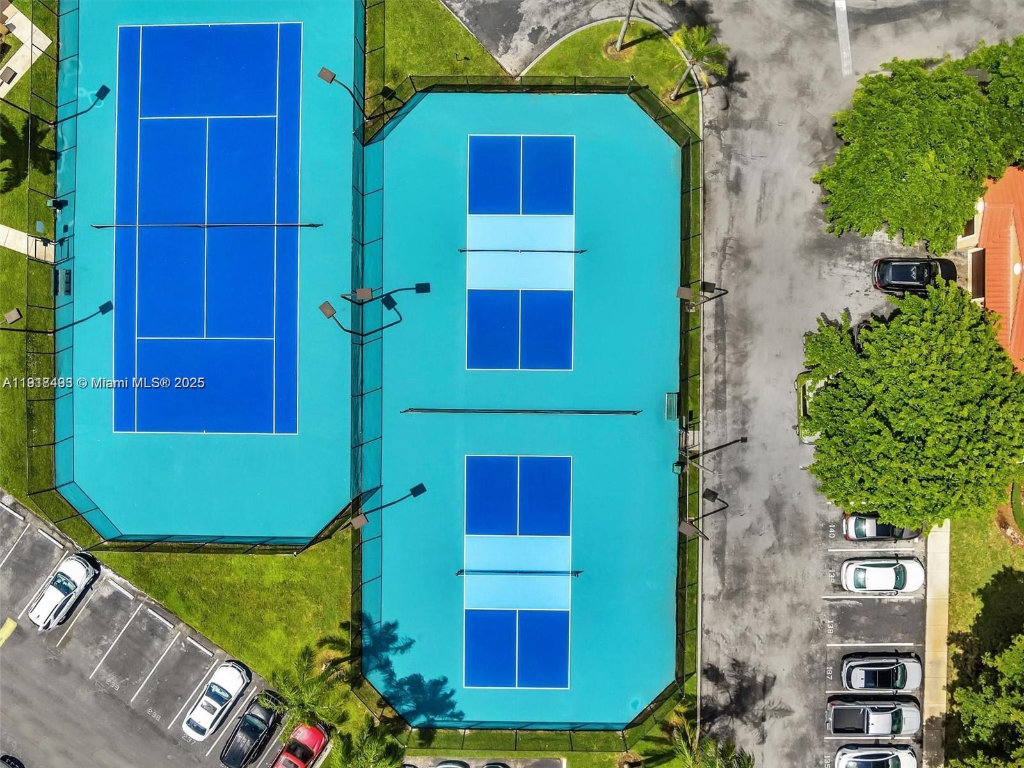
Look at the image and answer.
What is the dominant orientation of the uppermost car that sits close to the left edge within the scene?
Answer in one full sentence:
The uppermost car that sits close to the left edge is oriented diagonally.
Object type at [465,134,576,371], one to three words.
sports court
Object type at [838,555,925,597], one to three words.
car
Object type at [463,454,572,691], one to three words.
sports court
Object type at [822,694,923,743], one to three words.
truck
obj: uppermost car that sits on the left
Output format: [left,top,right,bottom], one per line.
[24,553,98,633]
